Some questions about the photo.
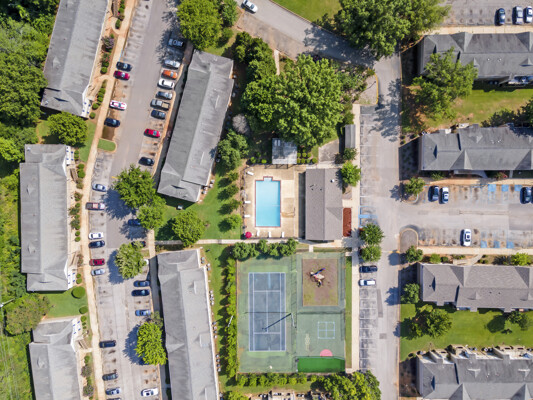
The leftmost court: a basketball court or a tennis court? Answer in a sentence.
It turns out the leftmost court is a tennis court.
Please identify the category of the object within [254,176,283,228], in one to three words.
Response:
swimming pool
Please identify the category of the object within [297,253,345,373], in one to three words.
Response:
sports court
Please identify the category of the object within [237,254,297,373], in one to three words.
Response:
tennis court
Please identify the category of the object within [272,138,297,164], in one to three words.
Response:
building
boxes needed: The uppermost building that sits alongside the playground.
[306,168,344,240]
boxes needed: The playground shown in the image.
[302,258,338,307]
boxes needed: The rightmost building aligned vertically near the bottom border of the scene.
[157,249,221,400]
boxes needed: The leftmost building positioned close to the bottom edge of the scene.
[27,317,87,400]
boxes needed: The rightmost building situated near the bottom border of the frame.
[416,342,533,400]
